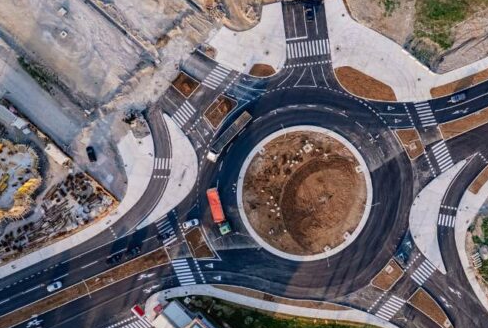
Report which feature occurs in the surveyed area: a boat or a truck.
truck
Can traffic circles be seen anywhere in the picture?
Yes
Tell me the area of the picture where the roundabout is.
center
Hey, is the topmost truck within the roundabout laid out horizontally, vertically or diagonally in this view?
diagonally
